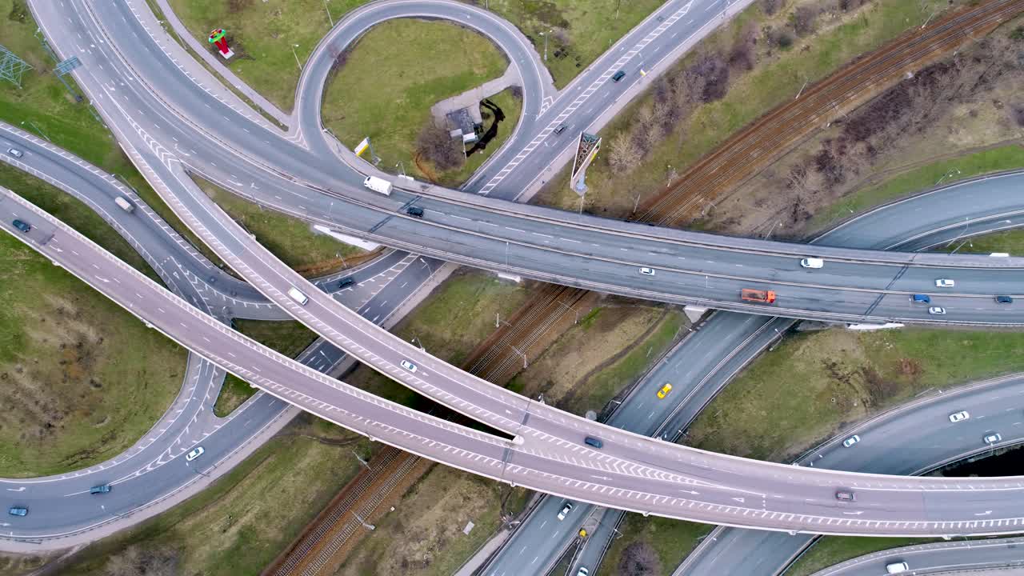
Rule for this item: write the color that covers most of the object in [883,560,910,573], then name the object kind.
white vehicle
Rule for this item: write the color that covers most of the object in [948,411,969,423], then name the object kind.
white vehicle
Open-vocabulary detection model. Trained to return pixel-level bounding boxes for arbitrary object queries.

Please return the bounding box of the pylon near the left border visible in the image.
[0,39,34,89]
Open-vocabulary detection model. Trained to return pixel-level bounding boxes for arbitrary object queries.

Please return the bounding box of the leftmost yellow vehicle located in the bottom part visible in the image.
[655,382,672,400]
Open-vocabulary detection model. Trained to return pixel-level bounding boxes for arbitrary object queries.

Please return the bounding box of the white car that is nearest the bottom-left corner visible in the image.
[184,446,206,462]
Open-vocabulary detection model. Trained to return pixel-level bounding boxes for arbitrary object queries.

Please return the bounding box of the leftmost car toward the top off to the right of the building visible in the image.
[552,122,567,135]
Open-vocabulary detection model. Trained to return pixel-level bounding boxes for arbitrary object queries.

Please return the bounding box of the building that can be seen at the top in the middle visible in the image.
[446,108,476,147]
